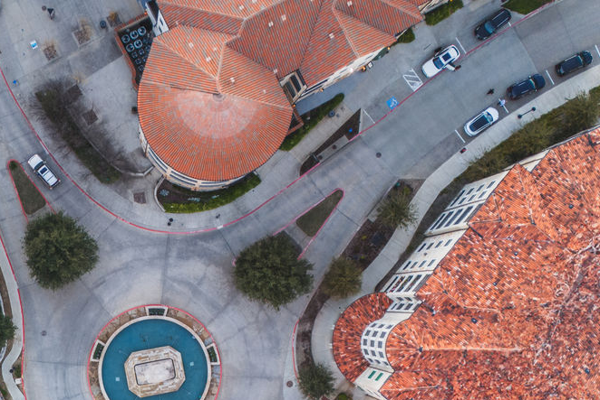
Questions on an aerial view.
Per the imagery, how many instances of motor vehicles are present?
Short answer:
6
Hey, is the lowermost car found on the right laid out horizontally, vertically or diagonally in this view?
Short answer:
diagonally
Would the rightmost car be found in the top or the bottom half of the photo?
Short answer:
top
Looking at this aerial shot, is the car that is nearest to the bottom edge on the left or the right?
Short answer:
left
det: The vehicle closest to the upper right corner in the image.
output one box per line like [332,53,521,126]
[555,47,596,73]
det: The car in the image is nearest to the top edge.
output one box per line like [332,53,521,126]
[476,4,514,36]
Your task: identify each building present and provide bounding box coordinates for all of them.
[335,124,600,400]
[137,0,450,189]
